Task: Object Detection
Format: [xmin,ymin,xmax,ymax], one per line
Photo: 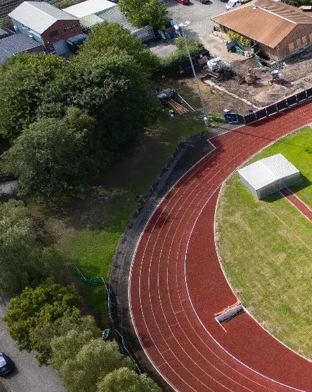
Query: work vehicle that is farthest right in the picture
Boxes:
[268,64,293,84]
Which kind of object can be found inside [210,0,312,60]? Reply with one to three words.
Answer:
building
